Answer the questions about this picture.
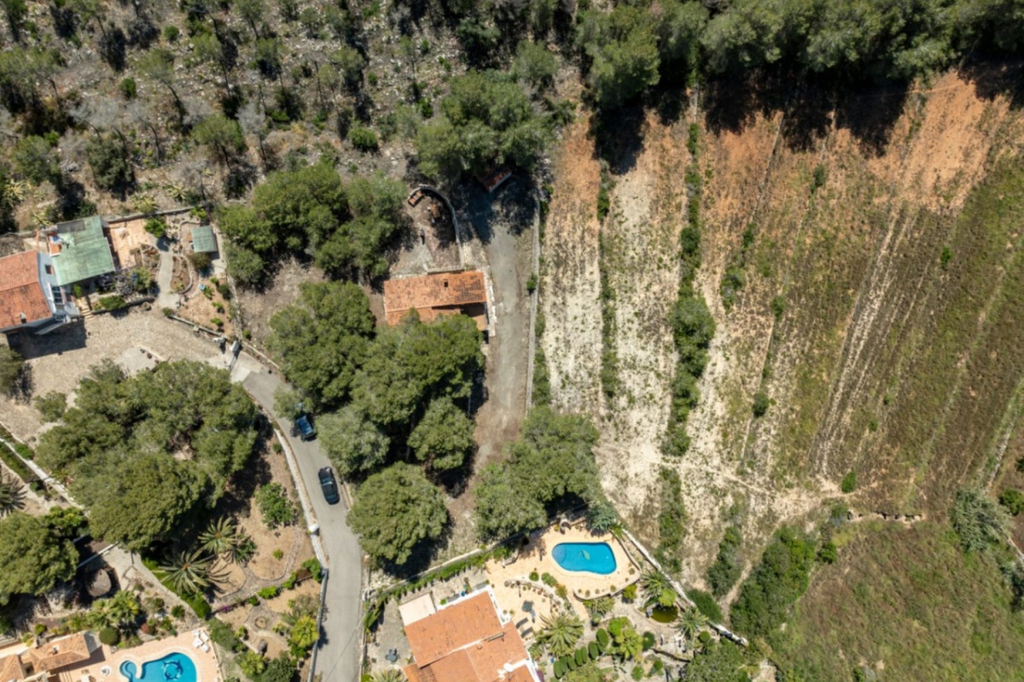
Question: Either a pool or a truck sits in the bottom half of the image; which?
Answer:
pool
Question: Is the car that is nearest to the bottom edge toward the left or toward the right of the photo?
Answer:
left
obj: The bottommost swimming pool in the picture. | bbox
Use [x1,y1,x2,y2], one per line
[118,650,199,682]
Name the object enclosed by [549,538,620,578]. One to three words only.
swimming pool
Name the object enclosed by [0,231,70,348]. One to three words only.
house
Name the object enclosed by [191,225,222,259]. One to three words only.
shed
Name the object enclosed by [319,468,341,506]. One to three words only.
car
